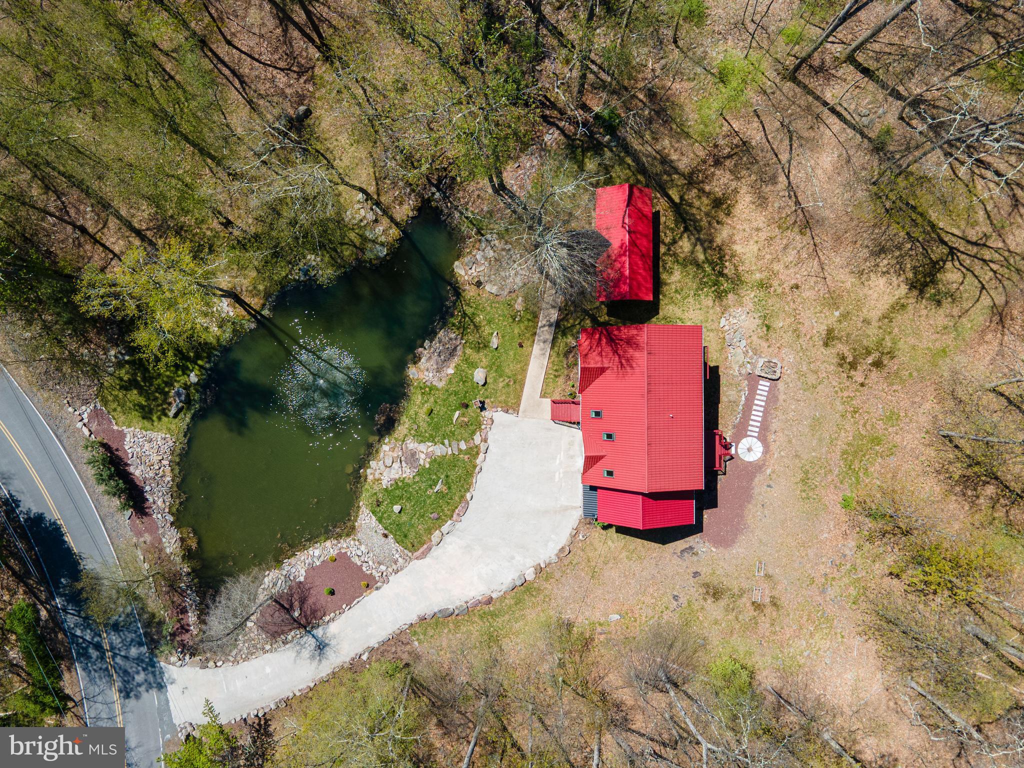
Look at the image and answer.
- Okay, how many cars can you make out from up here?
zero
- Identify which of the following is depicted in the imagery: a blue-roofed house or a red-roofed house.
red-roofed house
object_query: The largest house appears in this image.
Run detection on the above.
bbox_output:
[550,324,735,529]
